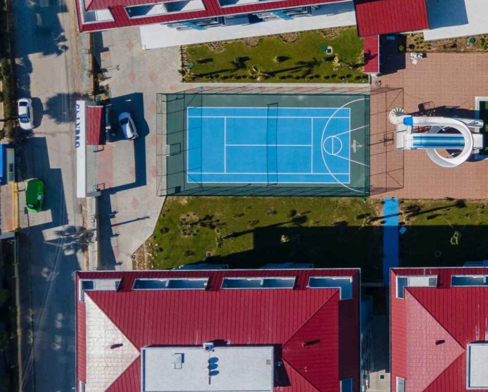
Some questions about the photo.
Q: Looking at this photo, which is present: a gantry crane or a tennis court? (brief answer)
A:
tennis court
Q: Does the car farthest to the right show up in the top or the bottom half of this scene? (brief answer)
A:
top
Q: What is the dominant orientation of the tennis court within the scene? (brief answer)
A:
from side to side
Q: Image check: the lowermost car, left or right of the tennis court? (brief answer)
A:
left of it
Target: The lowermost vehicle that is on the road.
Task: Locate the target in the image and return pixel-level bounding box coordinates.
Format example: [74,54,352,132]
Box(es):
[26,178,47,213]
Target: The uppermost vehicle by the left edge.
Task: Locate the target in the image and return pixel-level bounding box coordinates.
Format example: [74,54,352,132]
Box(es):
[17,97,36,130]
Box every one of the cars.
[26,178,47,213]
[119,110,139,142]
[17,97,36,130]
